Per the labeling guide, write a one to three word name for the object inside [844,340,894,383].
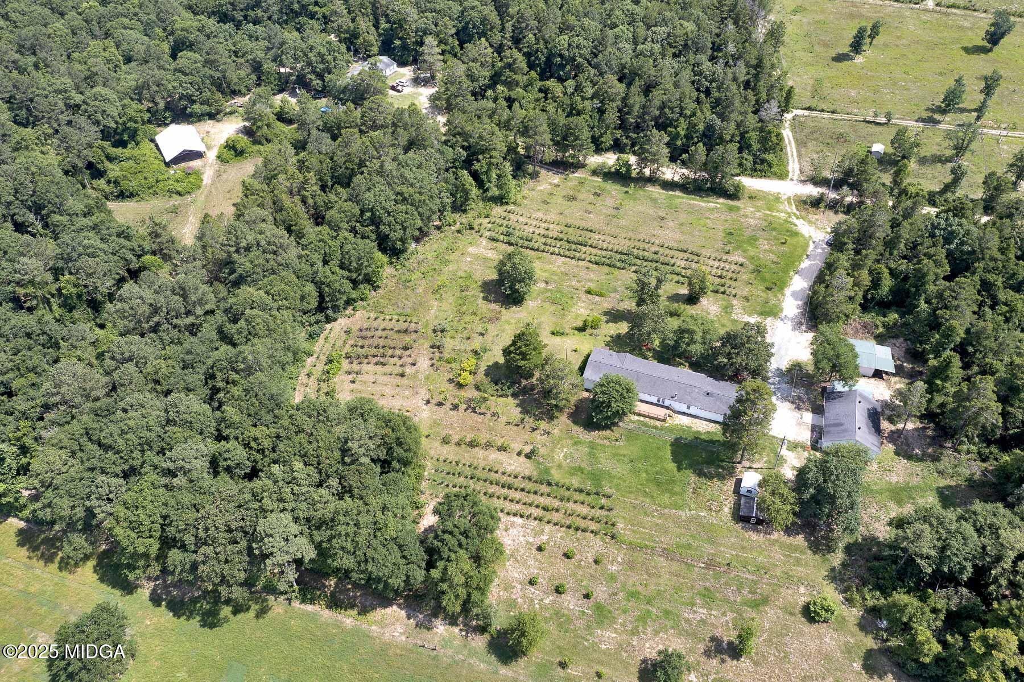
shed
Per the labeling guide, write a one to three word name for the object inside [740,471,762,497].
shed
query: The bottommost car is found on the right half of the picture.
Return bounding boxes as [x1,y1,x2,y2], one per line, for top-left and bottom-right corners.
[825,230,841,247]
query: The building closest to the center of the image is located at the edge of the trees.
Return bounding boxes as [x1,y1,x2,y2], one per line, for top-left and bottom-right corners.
[583,350,738,425]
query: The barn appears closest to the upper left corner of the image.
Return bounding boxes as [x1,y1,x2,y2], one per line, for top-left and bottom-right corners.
[152,125,209,170]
